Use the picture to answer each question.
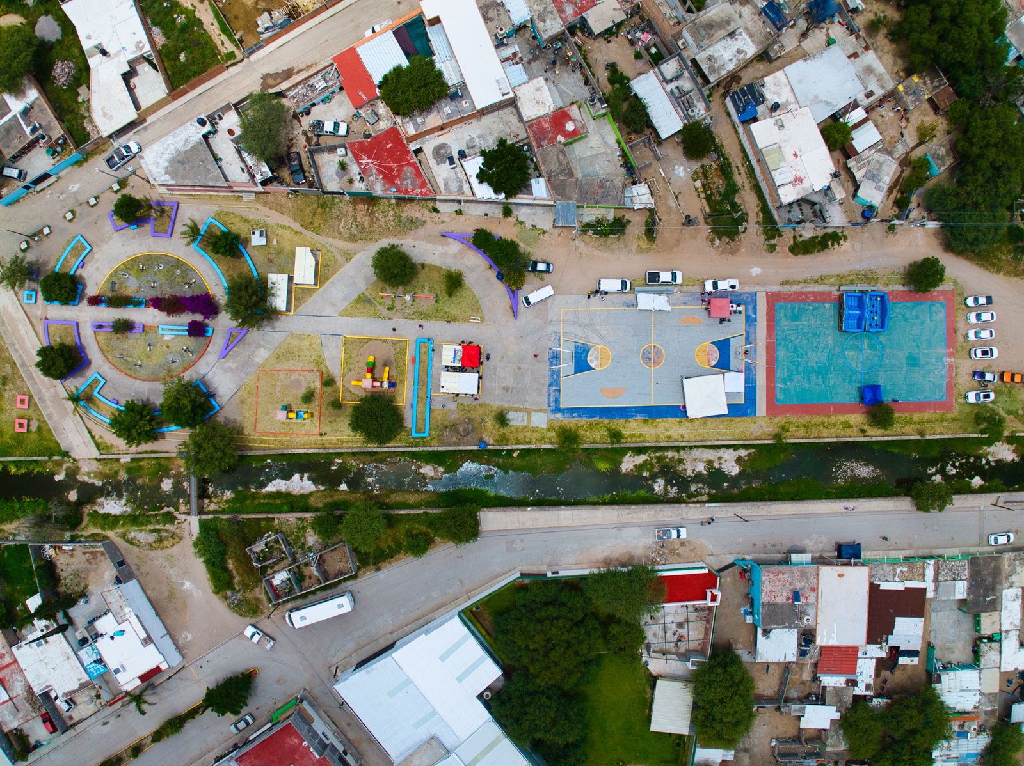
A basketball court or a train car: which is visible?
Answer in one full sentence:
The one in the frame is a basketball court.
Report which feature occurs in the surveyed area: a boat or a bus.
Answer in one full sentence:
Looking from above, you can make out a bus.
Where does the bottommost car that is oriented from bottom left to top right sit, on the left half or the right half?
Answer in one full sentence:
It is on the left.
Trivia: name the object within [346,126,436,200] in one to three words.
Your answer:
house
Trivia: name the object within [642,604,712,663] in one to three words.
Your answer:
building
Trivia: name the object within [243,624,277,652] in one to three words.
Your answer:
truck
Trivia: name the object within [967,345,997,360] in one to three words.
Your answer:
car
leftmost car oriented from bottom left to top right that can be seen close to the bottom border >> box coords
[229,710,258,734]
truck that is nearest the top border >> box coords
[363,15,394,37]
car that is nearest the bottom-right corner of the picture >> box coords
[985,531,1014,547]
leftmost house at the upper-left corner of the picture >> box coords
[0,76,71,166]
